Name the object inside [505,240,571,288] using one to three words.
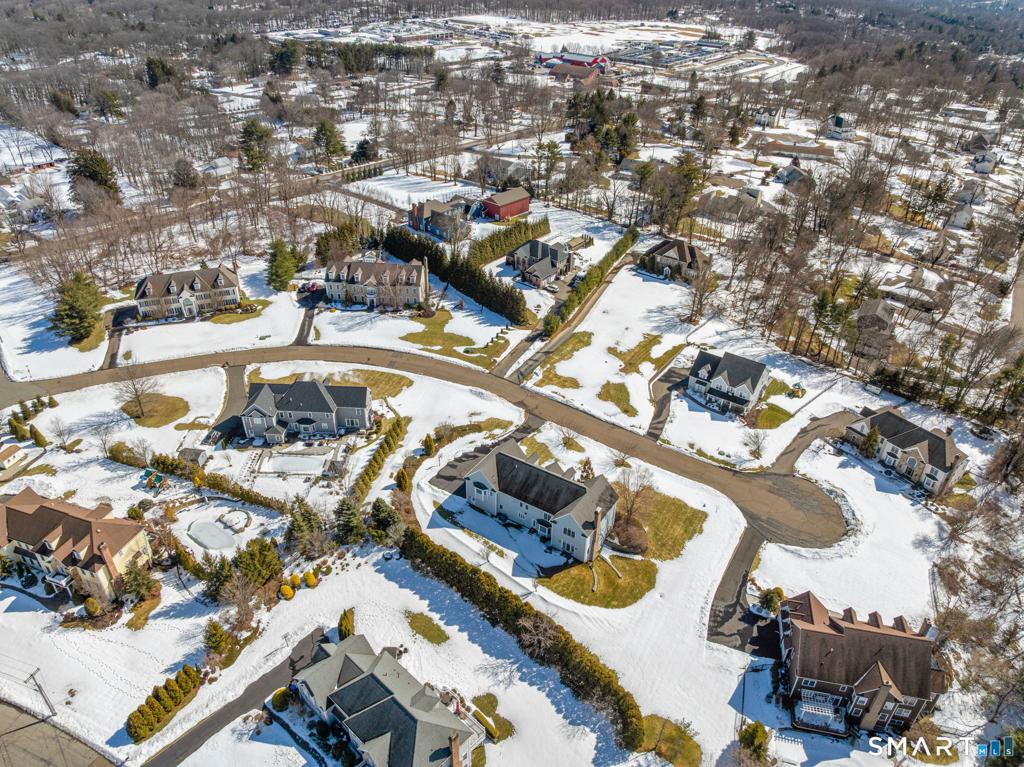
house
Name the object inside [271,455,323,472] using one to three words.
swimming pool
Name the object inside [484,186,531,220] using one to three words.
barn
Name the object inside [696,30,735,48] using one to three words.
building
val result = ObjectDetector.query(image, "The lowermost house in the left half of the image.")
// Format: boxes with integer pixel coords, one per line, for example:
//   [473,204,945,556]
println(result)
[292,627,490,767]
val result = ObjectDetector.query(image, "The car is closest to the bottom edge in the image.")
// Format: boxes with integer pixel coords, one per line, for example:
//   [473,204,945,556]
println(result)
[199,426,217,444]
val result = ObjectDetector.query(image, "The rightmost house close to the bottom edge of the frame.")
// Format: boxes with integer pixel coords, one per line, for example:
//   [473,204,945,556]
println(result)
[773,587,950,735]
